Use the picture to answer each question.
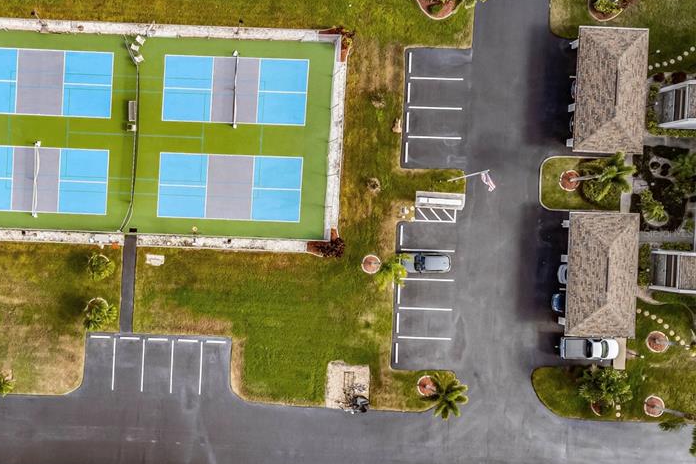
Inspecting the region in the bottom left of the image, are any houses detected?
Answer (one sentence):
No, there's no house to be seen in the bottom left of the image.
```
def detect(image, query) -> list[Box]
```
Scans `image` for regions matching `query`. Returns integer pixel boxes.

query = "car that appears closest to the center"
[402,250,449,275]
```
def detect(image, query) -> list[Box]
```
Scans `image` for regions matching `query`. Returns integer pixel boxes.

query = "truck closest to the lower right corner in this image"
[554,336,620,364]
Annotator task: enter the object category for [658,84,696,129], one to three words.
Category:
house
